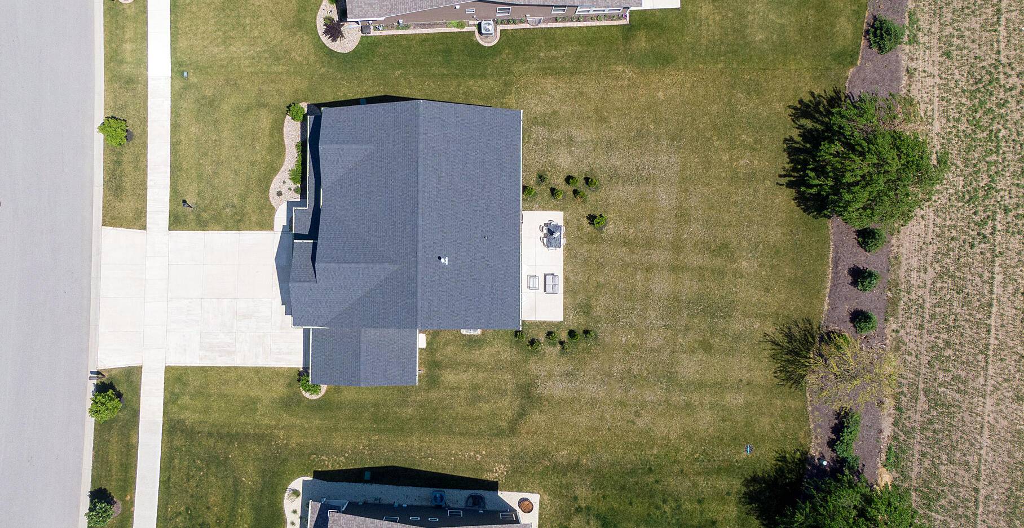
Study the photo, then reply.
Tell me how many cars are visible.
none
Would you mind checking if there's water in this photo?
No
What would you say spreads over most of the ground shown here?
grass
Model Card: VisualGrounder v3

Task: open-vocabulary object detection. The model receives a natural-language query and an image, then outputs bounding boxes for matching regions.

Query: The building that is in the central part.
[289,100,523,387]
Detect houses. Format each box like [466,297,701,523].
[346,0,639,25]
[289,100,523,387]
[306,499,535,528]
